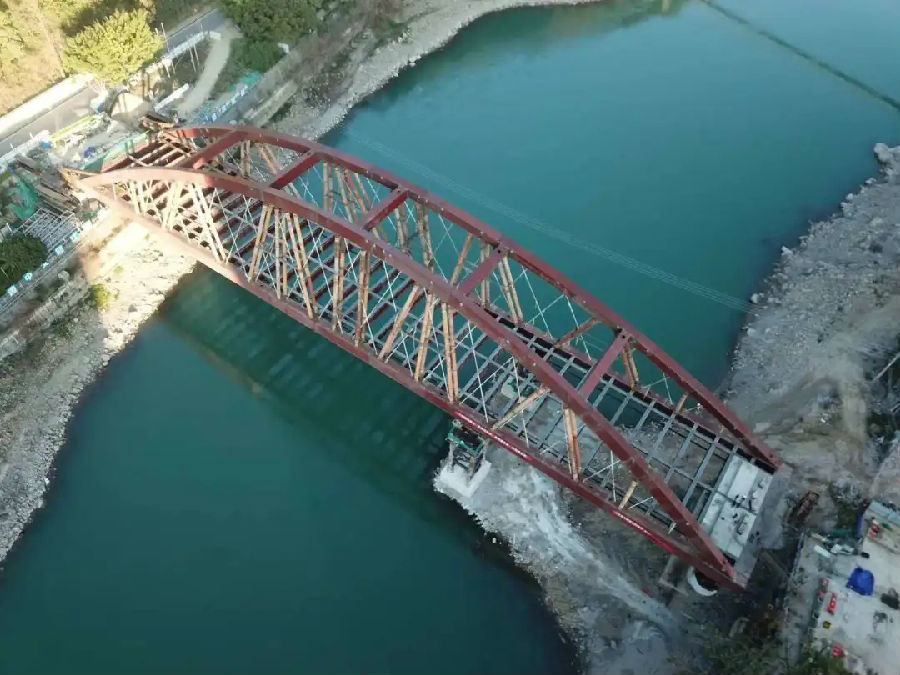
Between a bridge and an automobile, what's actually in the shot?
bridge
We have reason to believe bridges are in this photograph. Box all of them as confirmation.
[74,120,788,592]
